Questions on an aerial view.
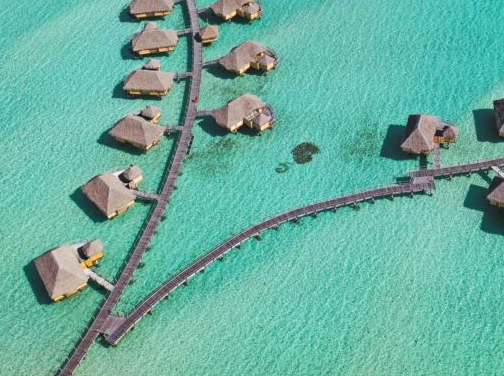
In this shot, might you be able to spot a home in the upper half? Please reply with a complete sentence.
Yes, the scene does show a home in the upper half.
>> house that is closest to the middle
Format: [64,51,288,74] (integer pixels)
[214,95,277,143]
